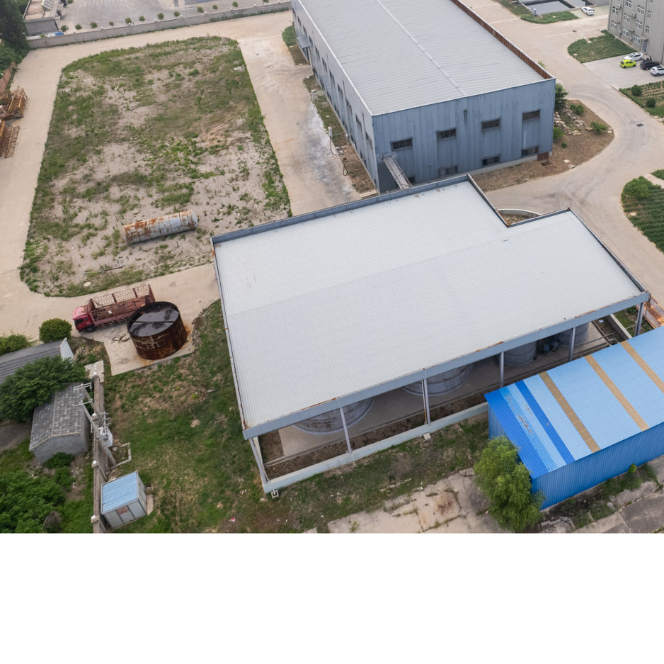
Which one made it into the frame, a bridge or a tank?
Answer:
tank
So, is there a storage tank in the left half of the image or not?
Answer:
Yes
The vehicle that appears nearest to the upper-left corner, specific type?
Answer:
truck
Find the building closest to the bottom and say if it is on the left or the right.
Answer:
left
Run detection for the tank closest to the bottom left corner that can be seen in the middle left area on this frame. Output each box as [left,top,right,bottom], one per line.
[123,300,191,365]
